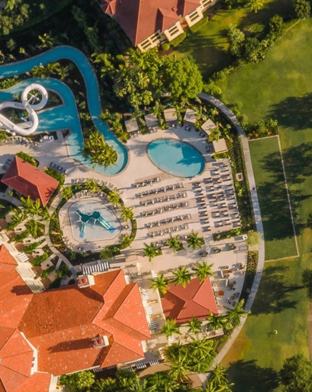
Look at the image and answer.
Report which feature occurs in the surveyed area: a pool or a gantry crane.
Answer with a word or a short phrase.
pool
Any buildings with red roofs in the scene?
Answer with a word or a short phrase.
Yes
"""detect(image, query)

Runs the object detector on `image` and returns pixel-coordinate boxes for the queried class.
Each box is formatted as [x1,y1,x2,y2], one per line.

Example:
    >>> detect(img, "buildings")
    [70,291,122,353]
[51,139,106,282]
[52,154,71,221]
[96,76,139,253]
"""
[100,0,224,54]
[1,155,62,206]
[0,209,159,392]
[166,275,219,323]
